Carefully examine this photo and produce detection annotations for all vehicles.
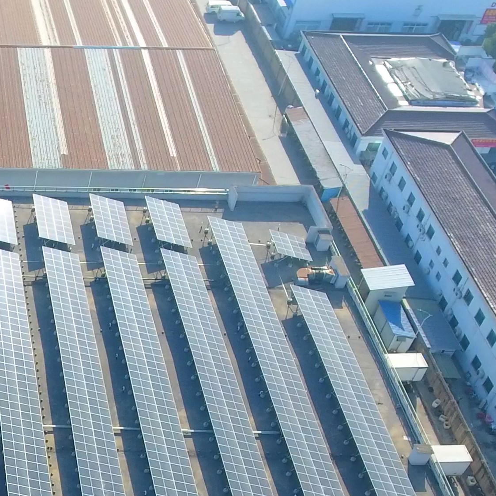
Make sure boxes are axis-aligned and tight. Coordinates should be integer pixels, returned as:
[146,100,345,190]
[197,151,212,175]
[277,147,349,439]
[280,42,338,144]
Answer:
[204,0,233,12]
[216,6,247,22]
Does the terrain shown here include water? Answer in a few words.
No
